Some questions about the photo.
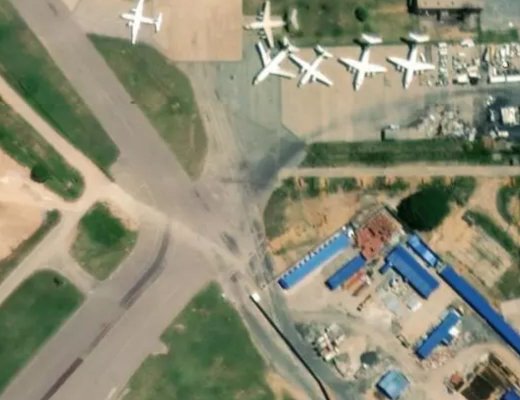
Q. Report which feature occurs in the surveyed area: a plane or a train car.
plane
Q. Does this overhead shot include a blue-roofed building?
Yes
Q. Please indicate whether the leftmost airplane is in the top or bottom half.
top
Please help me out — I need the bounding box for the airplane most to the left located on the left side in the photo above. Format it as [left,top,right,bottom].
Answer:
[120,0,164,43]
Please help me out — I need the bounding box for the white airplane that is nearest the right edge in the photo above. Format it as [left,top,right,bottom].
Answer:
[389,33,436,89]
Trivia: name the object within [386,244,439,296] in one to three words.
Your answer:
building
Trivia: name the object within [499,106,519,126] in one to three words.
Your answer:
shed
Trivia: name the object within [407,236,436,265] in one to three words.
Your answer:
shed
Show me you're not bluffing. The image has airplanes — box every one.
[120,0,164,43]
[340,34,388,90]
[243,1,300,47]
[253,37,300,84]
[389,33,436,89]
[290,45,333,86]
